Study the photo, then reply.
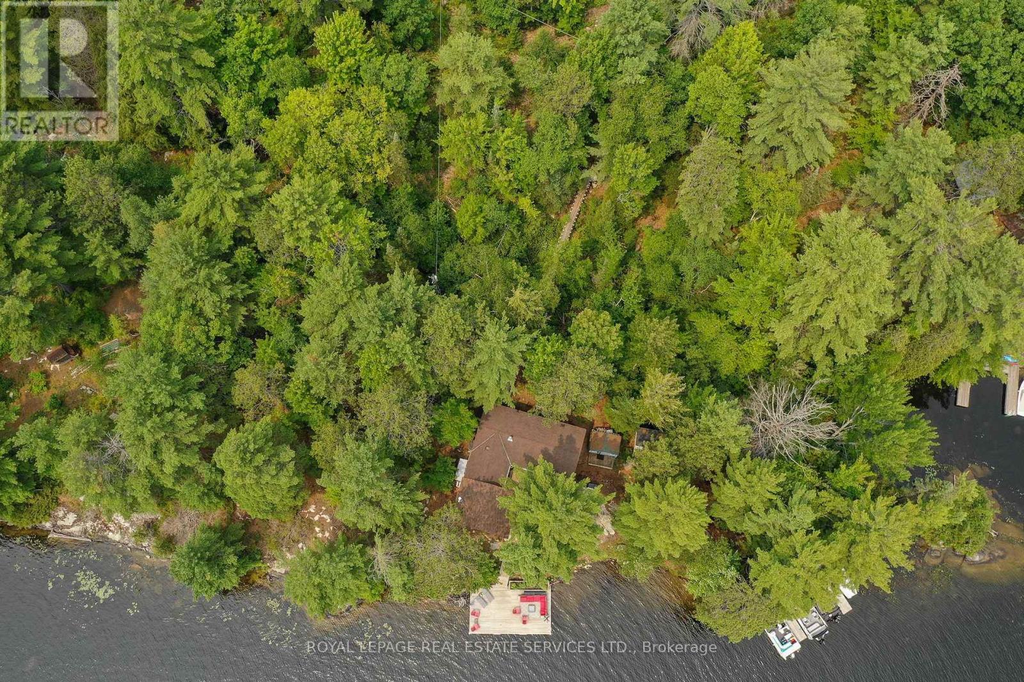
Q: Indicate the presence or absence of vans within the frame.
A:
No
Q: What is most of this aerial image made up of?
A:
trees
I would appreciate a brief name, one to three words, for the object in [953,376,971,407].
pier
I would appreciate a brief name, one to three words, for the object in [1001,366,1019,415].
pier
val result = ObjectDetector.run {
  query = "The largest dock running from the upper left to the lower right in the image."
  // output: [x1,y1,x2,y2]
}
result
[775,601,808,642]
